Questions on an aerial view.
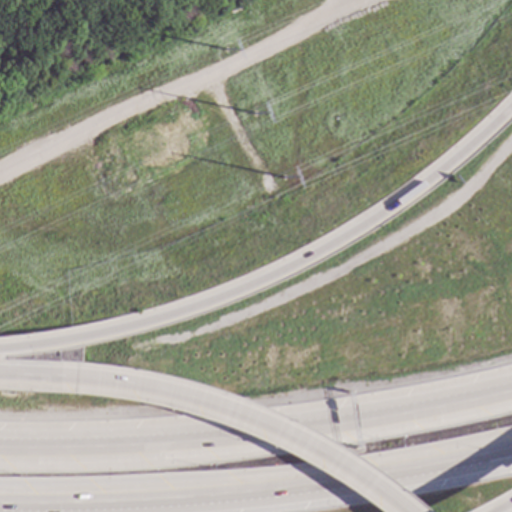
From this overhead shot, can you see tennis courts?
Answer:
No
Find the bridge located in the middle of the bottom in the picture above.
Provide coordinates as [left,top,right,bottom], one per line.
[0,358,432,512]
